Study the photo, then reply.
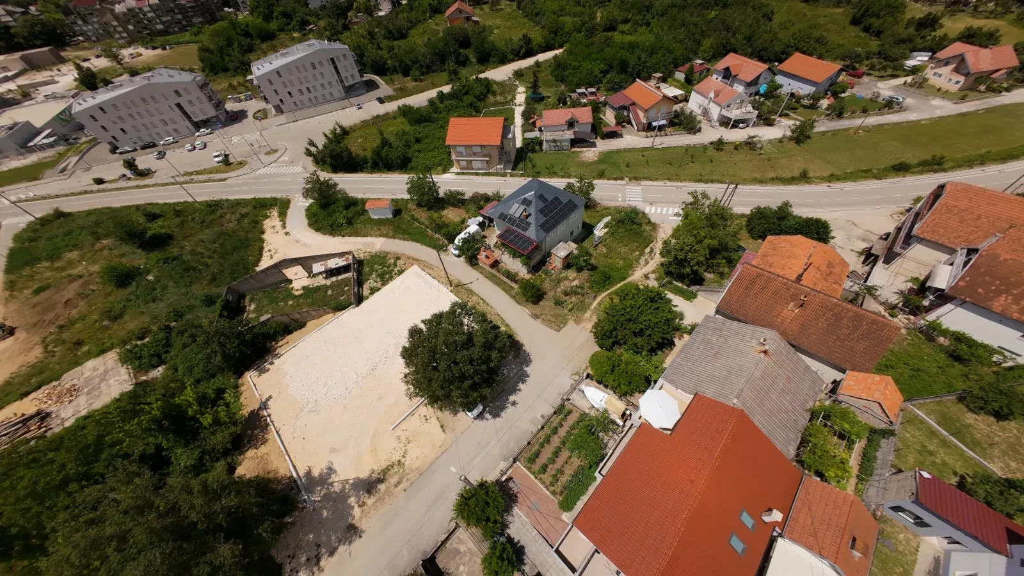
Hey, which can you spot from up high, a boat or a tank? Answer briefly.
boat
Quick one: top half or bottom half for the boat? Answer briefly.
bottom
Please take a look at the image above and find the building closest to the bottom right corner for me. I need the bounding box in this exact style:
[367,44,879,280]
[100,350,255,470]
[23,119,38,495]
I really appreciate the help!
[858,471,1024,576]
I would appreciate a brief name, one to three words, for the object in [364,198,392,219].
shed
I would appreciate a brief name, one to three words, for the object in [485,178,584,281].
house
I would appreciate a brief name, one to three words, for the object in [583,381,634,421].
boat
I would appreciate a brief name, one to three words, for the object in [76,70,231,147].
building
